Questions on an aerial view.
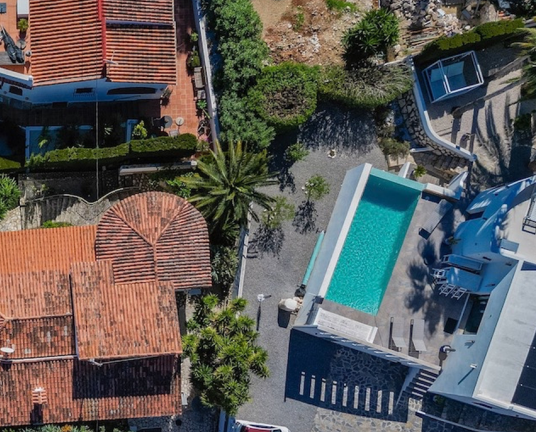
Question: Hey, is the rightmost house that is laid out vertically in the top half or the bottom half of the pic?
bottom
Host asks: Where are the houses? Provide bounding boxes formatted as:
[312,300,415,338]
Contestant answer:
[0,0,177,100]
[0,190,213,429]
[433,173,536,416]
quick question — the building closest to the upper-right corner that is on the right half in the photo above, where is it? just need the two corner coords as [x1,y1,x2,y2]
[426,47,498,99]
